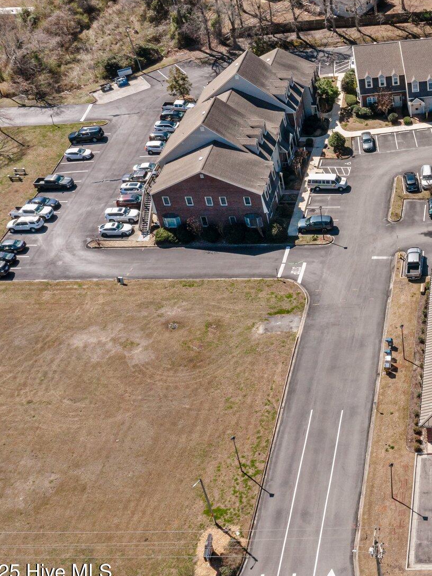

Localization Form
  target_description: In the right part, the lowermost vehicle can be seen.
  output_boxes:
[404,249,424,280]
